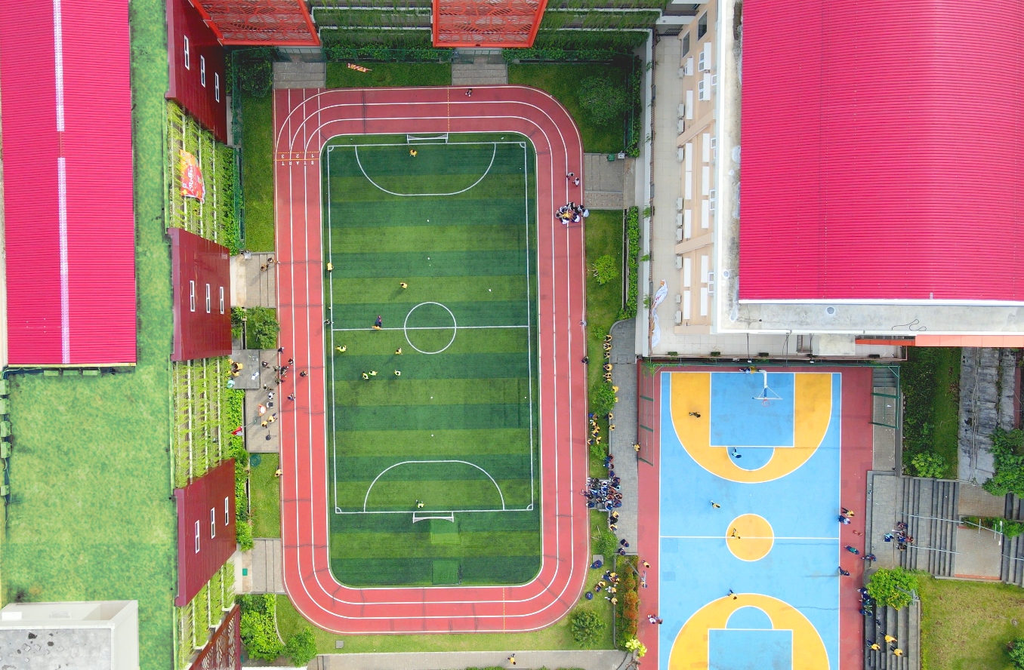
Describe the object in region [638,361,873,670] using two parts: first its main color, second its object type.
blue basketball court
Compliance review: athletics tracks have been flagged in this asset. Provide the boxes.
[274,84,592,636]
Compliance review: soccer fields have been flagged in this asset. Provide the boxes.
[321,132,541,587]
